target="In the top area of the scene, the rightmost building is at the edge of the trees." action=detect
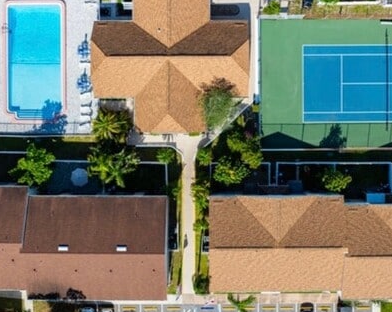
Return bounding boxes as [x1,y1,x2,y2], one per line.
[91,0,249,131]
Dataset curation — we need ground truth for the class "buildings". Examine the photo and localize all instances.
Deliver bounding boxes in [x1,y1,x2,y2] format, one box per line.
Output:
[208,189,351,292]
[91,0,249,131]
[18,193,171,301]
